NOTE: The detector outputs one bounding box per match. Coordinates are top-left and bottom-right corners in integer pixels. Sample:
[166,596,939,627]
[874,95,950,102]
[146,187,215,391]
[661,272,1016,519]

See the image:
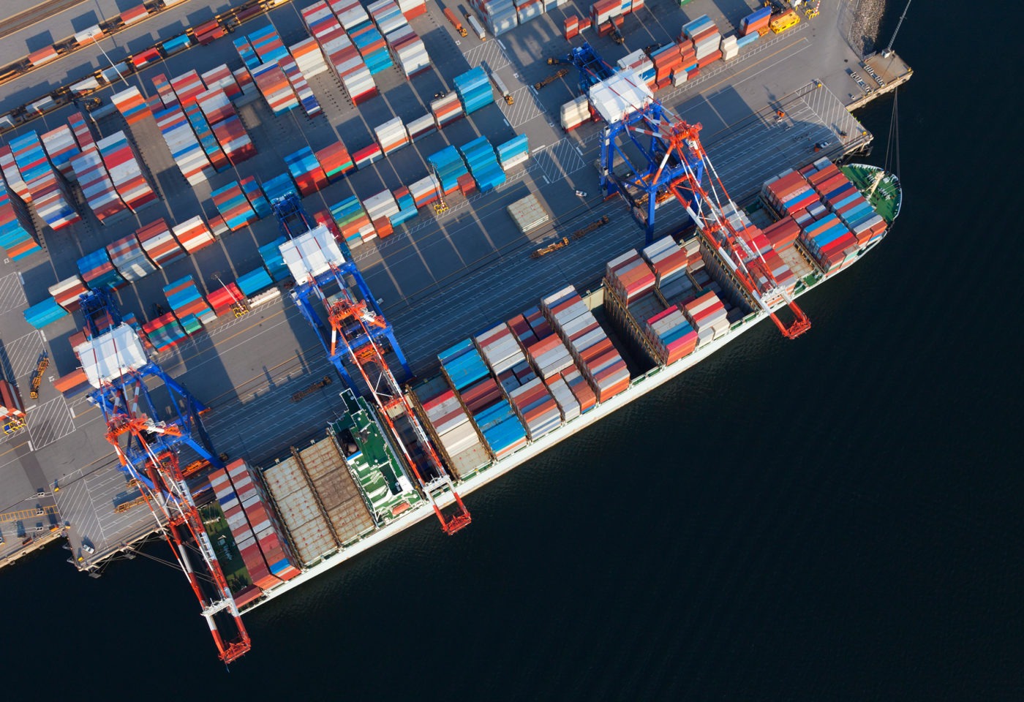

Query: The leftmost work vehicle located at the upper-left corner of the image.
[88,91,122,110]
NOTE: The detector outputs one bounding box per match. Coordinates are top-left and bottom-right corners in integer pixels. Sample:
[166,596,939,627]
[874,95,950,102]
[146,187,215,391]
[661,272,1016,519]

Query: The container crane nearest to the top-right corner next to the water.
[559,35,819,340]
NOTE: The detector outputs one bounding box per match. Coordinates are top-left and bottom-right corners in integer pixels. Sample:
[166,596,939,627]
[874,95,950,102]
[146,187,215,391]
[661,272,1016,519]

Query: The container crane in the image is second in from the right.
[262,183,477,538]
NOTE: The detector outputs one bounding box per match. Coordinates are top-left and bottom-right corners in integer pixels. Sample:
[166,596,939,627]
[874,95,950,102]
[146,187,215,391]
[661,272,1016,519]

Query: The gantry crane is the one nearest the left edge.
[71,277,255,667]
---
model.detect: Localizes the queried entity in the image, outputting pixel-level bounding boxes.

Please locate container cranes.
[71,277,255,667]
[262,183,477,538]
[559,35,819,340]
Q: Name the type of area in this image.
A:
port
